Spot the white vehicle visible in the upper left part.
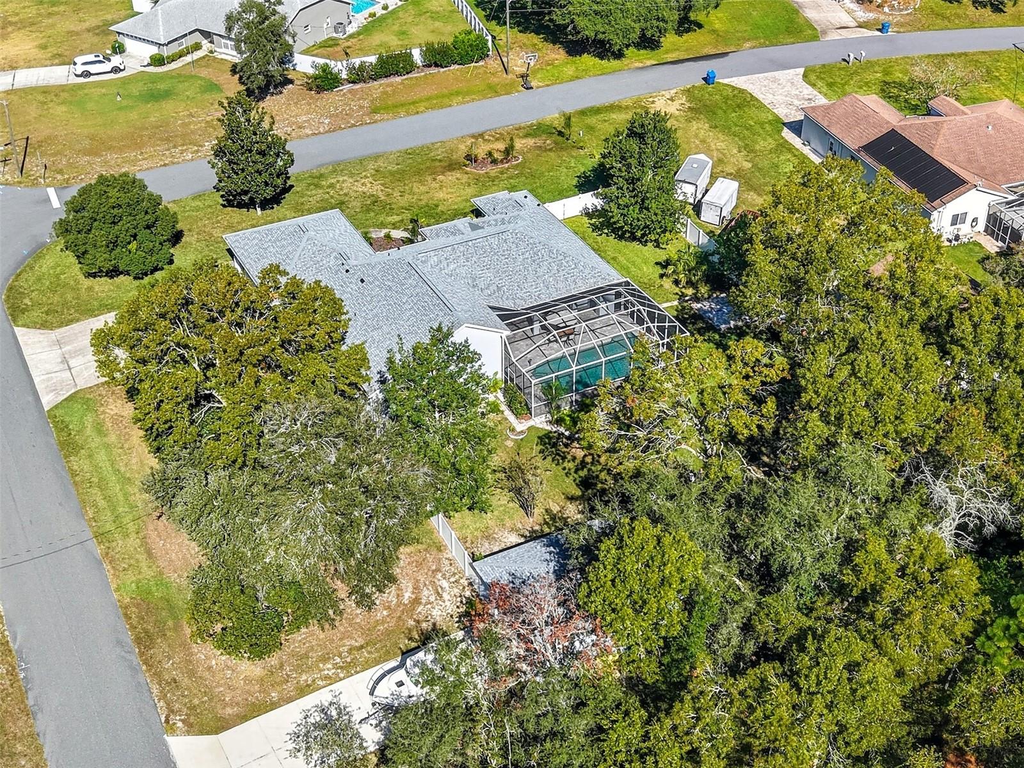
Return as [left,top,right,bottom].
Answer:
[67,50,125,78]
